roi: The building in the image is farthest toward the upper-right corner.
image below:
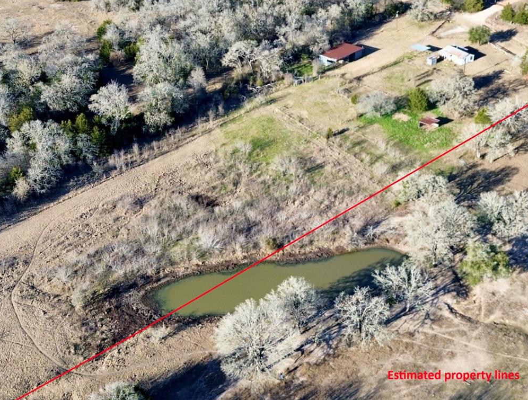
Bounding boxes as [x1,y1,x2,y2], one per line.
[439,42,476,65]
